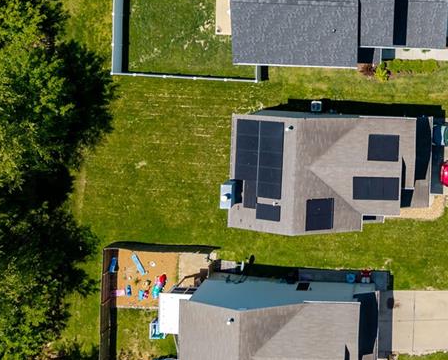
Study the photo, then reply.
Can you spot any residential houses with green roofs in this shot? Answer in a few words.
No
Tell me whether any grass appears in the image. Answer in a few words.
Yes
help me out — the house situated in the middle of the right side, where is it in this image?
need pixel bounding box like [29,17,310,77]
[219,109,434,237]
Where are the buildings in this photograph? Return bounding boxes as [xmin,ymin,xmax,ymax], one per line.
[219,109,434,237]
[228,0,448,72]
[177,282,380,360]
